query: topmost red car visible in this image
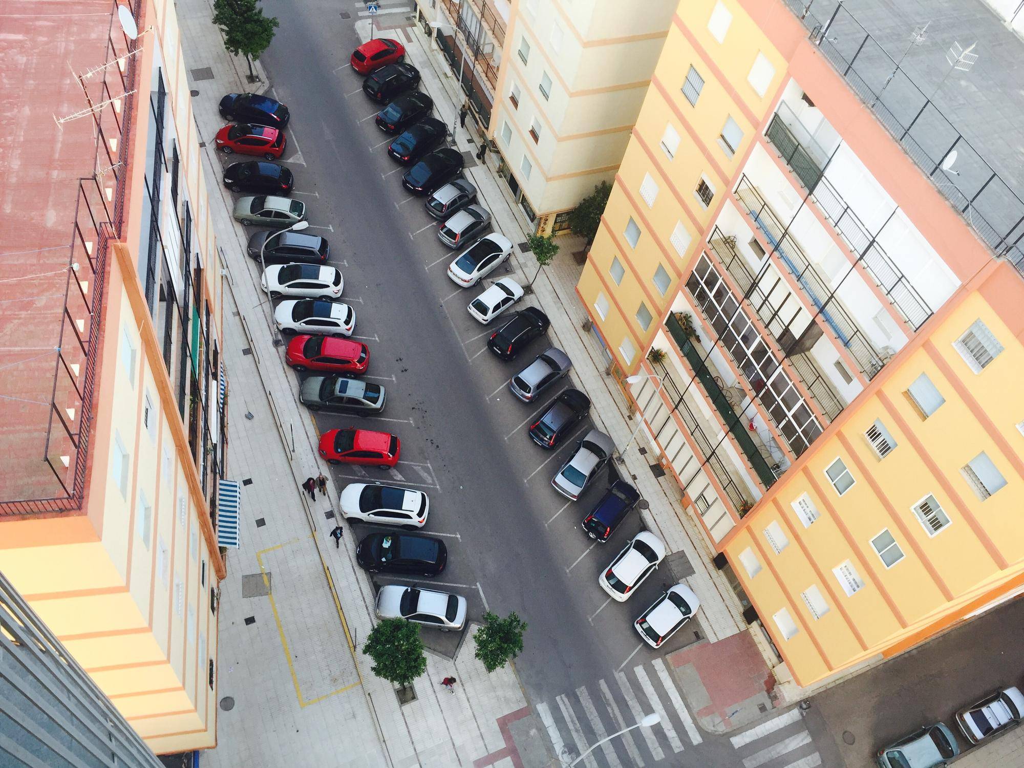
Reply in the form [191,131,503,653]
[350,40,407,77]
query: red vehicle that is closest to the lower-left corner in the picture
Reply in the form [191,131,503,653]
[320,426,403,472]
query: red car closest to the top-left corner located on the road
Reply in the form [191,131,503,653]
[214,122,286,159]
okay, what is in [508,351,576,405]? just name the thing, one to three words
car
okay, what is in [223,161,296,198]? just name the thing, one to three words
car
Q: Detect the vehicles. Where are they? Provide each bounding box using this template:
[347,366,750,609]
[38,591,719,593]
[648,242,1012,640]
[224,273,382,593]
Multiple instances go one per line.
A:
[508,351,576,405]
[581,483,648,551]
[402,151,468,196]
[223,161,296,198]
[214,122,286,159]
[263,260,346,301]
[249,230,332,266]
[488,310,555,364]
[277,296,359,340]
[375,586,470,636]
[358,534,450,583]
[373,95,437,136]
[362,65,423,103]
[882,724,968,768]
[233,194,311,233]
[288,335,374,382]
[386,121,452,165]
[468,282,526,328]
[350,40,407,77]
[438,210,495,253]
[549,436,622,504]
[301,378,390,423]
[604,534,676,606]
[446,235,517,288]
[529,393,596,451]
[217,94,289,131]
[340,483,434,534]
[638,585,708,659]
[320,426,403,472]
[424,180,480,222]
